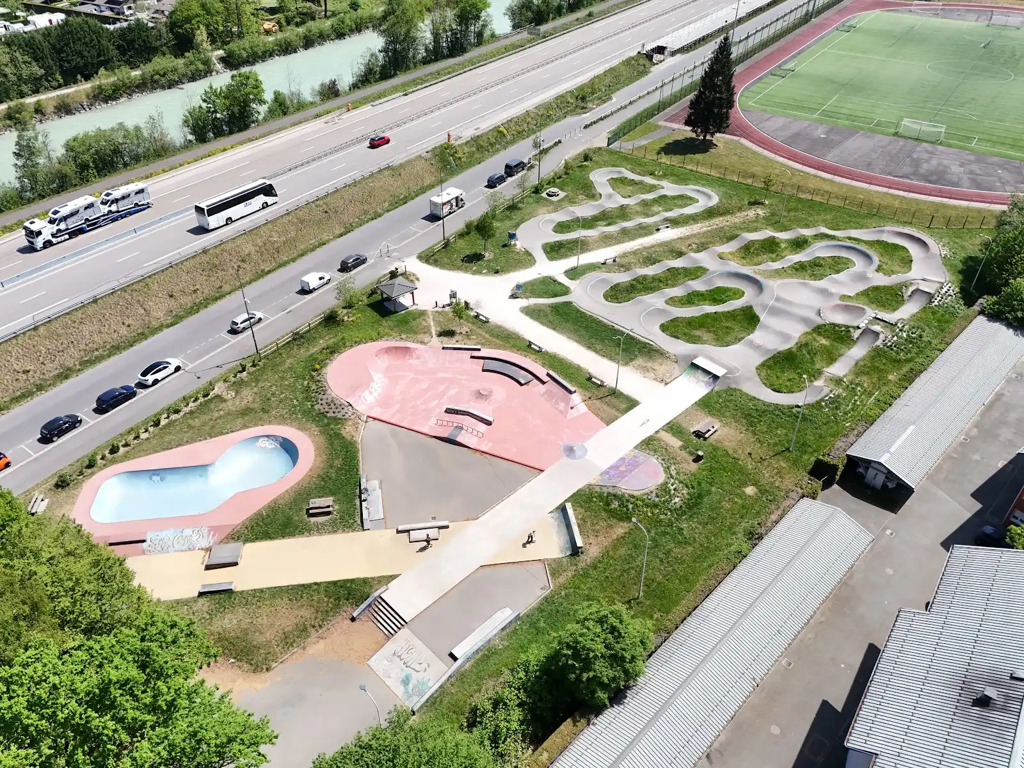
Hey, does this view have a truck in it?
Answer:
Yes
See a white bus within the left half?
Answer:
Yes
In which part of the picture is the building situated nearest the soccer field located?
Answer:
right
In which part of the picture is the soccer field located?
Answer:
top right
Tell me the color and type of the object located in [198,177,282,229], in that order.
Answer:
white bus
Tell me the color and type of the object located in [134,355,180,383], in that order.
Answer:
white car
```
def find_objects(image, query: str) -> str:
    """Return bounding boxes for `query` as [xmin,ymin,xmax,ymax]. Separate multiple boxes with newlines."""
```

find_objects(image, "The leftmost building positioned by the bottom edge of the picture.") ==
[544,498,872,768]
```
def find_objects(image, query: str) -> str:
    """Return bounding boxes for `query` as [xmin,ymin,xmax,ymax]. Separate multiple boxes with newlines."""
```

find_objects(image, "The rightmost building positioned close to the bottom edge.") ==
[827,542,1024,768]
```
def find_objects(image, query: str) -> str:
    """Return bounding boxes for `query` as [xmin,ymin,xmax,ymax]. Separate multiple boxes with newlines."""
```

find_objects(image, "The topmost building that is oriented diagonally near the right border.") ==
[843,307,1024,505]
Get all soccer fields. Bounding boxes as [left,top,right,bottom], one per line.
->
[738,10,1024,159]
